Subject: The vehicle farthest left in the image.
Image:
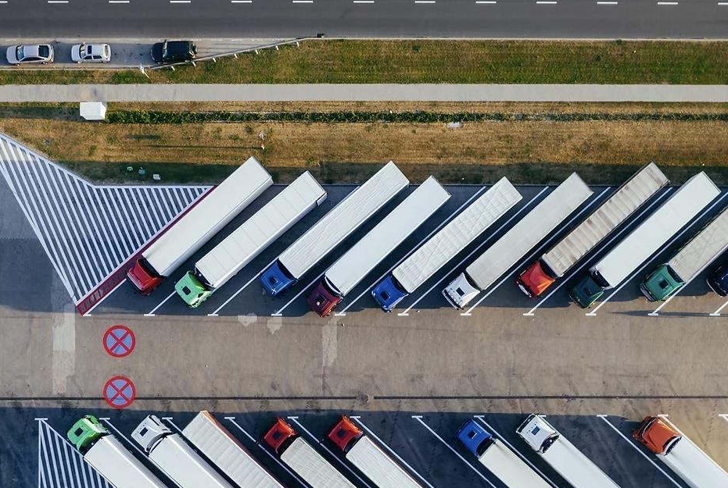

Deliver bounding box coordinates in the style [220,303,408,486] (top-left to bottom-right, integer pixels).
[7,42,57,66]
